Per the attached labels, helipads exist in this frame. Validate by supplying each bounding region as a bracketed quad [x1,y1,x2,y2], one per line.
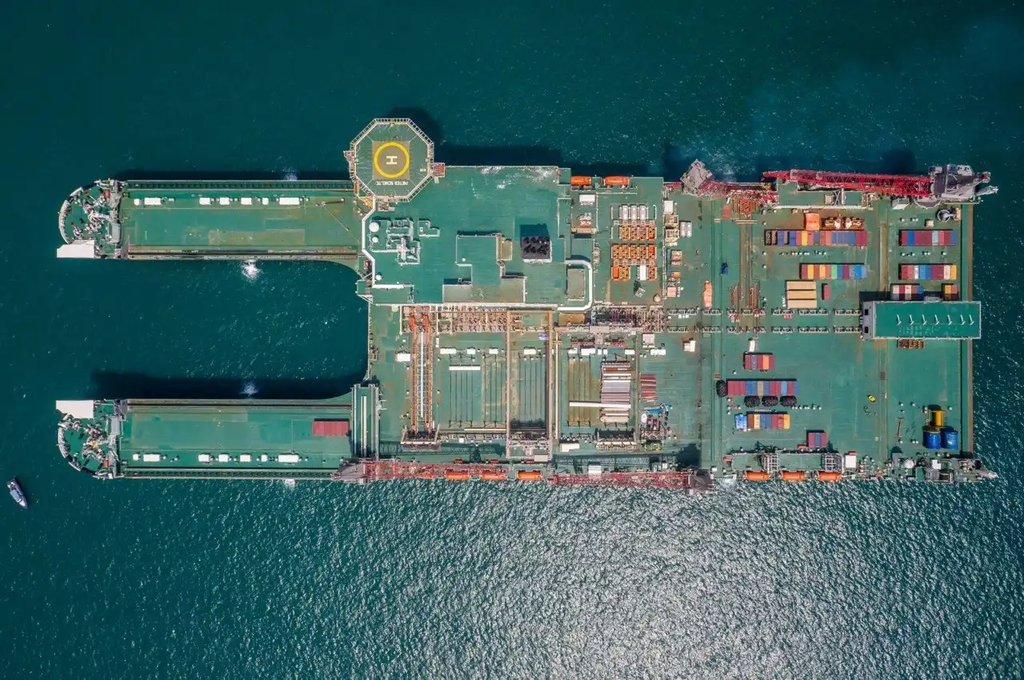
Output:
[344,118,446,212]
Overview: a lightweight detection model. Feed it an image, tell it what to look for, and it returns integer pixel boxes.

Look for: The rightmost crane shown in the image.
[759,165,1000,209]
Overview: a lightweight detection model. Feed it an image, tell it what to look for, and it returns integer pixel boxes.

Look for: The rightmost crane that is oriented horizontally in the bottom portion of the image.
[546,462,713,494]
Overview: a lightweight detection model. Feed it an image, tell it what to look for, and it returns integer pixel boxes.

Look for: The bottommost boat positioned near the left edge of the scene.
[3,477,27,509]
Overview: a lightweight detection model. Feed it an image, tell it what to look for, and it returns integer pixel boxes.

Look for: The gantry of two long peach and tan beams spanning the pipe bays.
[506,311,562,462]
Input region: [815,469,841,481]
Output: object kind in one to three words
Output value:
boat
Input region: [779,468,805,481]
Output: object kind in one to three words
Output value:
boat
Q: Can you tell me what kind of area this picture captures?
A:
port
